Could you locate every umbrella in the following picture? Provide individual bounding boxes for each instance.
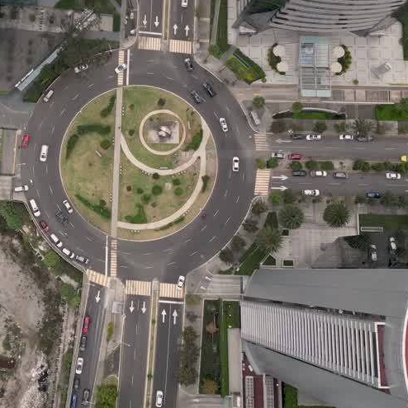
[332,47,343,58]
[330,63,341,74]
[273,46,284,58]
[276,62,287,73]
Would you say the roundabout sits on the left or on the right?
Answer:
left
